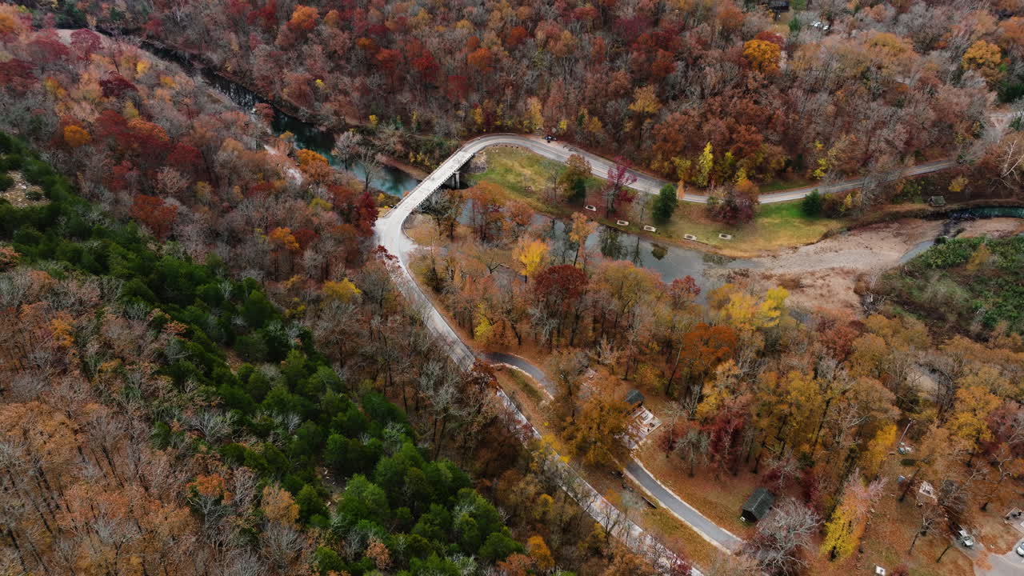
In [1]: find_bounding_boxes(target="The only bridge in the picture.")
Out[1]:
[394,145,479,210]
